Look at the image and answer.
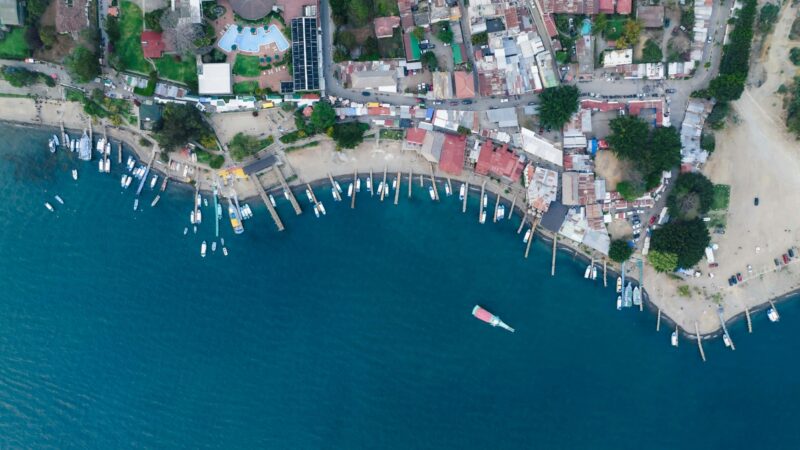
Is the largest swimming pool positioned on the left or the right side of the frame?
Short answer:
left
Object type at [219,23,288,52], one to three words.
swimming pool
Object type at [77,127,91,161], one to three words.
vessel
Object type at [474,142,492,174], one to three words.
building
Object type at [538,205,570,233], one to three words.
house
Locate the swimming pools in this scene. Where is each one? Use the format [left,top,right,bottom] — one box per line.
[219,23,288,52]
[580,21,592,35]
